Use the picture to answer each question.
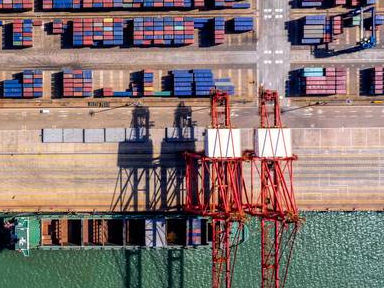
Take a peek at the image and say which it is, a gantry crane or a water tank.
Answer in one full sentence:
I can see a gantry crane in this picture.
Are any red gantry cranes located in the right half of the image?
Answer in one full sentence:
Yes, a red gantry crane is visible in the right half of the image.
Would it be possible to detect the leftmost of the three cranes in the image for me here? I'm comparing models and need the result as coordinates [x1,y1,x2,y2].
[174,90,251,288]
